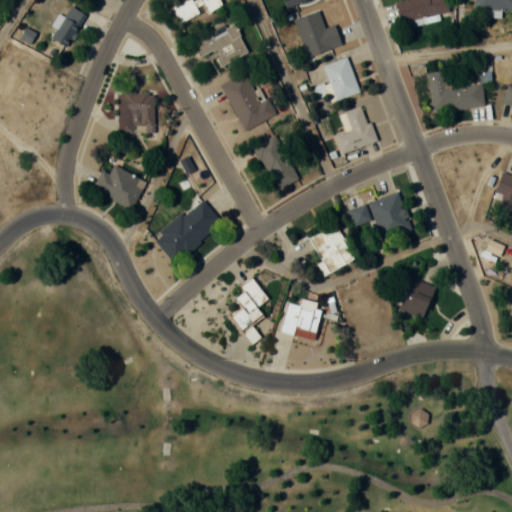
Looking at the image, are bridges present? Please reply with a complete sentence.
No, the frame has no bridge in it.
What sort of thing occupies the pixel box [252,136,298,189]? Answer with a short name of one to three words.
house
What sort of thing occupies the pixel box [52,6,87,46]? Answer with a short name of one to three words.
house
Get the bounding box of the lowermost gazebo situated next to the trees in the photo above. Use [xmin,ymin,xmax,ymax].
[410,408,430,430]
